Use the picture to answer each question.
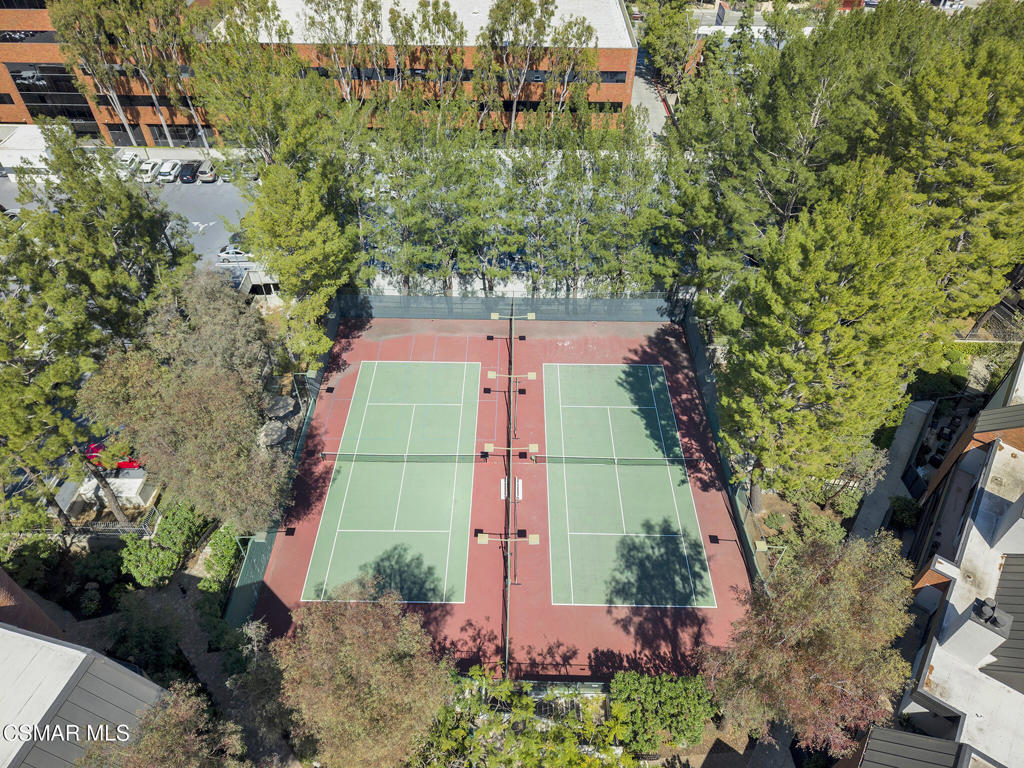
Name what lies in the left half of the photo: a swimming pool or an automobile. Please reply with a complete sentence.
Visible in the left half of the photo is an automobile.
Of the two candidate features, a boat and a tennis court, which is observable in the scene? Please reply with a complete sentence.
I can see a tennis court in this picture.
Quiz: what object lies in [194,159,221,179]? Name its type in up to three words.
car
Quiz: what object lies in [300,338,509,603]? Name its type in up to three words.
tennis court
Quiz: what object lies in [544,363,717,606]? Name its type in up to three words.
tennis court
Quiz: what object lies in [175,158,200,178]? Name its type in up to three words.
car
